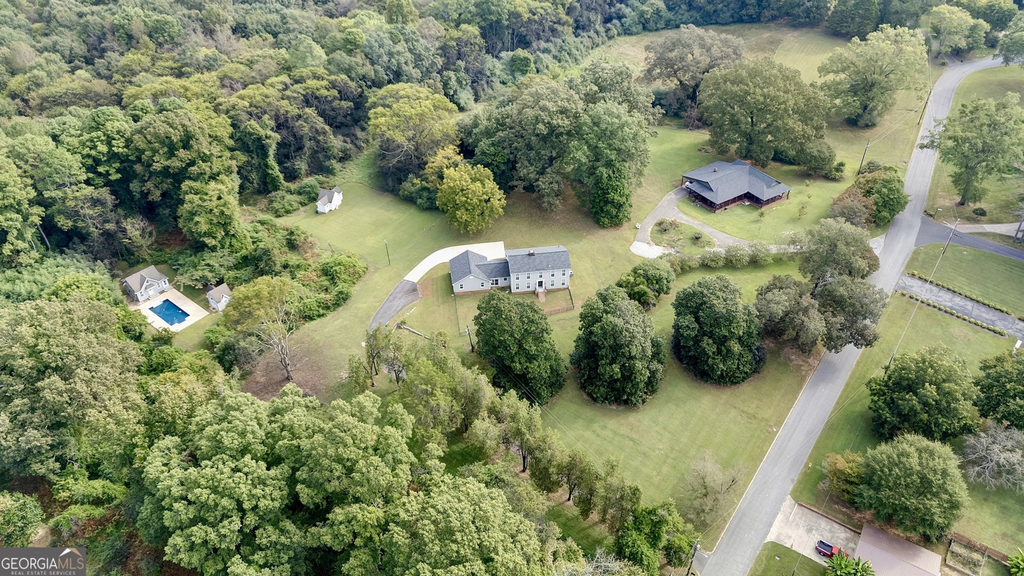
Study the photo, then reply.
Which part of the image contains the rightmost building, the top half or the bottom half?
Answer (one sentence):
You can find the rightmost building in the bottom half.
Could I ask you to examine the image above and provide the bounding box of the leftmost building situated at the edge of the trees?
[121,263,174,302]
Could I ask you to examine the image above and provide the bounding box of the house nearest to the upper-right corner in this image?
[678,159,792,213]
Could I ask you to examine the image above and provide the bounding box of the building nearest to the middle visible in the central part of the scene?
[451,247,574,302]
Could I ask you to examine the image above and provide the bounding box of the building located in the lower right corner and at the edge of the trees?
[849,523,942,576]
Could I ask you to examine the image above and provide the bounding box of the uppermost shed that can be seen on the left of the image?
[314,188,345,213]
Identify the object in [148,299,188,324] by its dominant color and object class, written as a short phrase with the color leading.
blue swimming pool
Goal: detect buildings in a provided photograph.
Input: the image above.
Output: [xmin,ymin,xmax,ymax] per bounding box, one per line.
[451,247,574,302]
[121,263,174,302]
[678,159,792,213]
[849,523,942,576]
[314,188,345,213]
[205,281,238,312]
